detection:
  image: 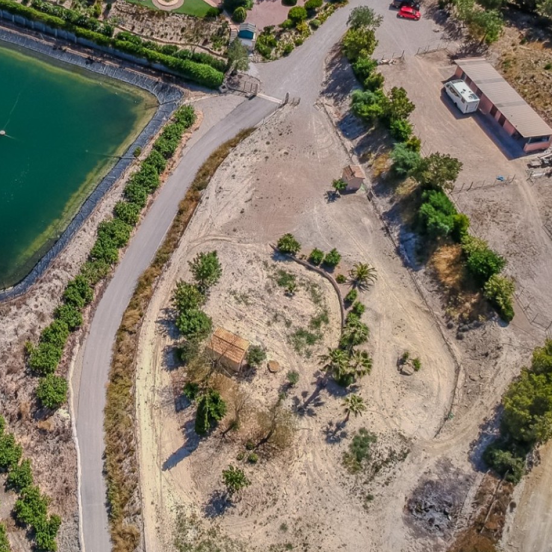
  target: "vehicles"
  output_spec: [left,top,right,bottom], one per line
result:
[446,78,487,114]
[397,6,422,19]
[392,0,422,10]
